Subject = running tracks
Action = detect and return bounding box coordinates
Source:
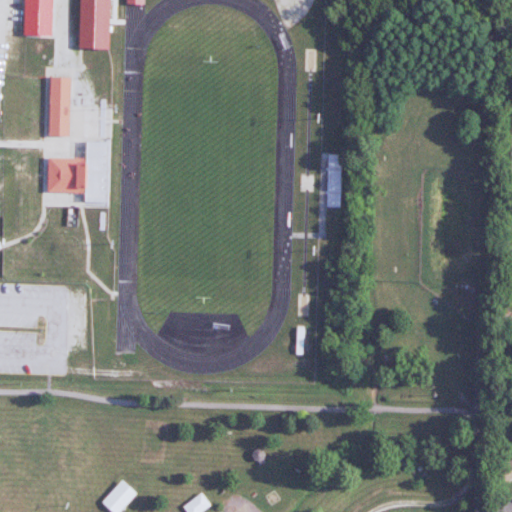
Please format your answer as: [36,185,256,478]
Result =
[116,0,296,373]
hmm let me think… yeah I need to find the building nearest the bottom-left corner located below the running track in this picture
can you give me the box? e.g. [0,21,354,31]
[102,480,138,512]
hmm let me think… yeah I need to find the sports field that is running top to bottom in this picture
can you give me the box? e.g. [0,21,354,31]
[138,4,278,340]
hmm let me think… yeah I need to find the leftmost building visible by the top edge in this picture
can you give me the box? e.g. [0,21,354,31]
[23,0,52,36]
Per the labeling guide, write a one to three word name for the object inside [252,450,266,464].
gazebo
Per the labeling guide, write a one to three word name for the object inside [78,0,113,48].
building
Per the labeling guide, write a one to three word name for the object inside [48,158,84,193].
building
